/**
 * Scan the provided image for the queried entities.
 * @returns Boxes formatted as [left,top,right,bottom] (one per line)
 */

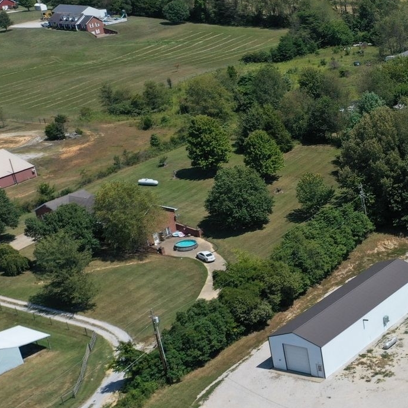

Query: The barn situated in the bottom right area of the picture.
[267,258,408,377]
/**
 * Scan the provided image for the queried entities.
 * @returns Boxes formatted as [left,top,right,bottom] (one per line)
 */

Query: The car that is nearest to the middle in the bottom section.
[195,250,217,262]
